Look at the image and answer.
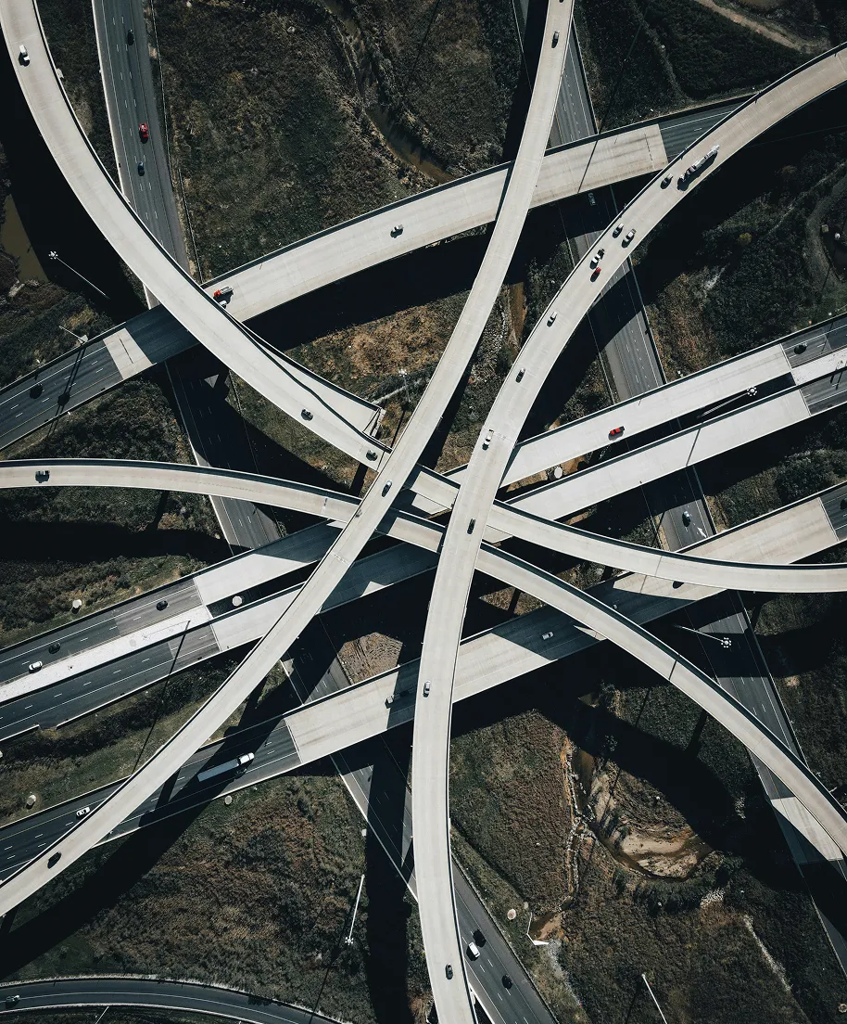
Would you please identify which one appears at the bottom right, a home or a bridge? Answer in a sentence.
Visible at the bottom right is a bridge.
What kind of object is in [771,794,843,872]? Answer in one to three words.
bridge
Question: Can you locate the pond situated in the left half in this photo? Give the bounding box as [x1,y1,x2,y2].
[0,174,61,284]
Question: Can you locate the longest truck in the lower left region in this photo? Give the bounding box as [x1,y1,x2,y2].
[196,753,251,782]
